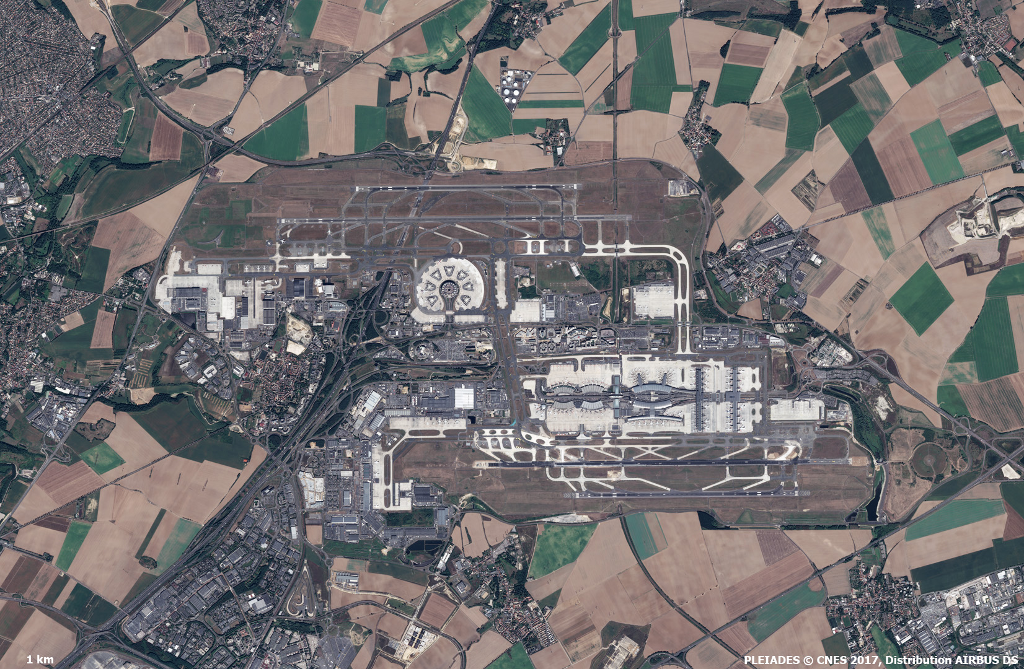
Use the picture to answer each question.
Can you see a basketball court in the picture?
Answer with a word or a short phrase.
No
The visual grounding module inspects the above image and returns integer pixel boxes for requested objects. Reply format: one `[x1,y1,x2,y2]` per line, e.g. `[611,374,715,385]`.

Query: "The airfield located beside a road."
[152,160,875,525]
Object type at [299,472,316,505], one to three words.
building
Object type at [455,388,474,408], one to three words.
building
